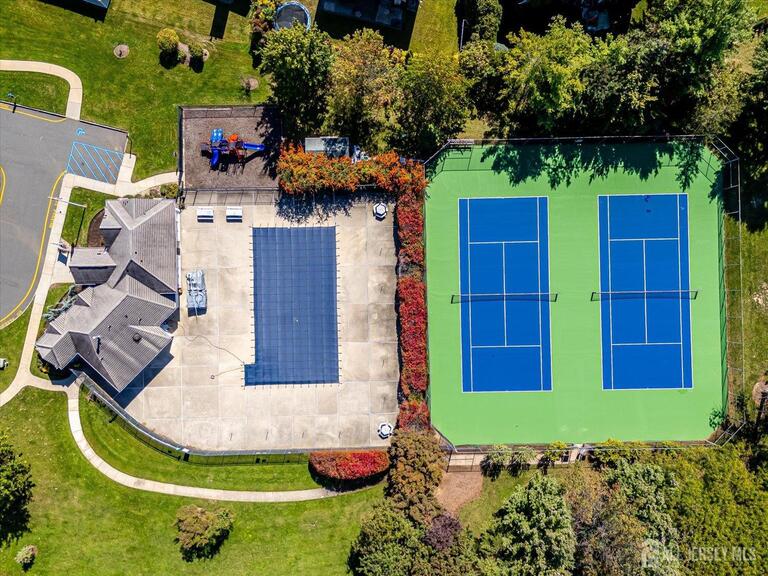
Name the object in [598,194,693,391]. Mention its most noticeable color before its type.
blue tennis court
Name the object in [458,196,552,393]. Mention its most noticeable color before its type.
blue tennis court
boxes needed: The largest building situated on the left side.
[35,196,183,391]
